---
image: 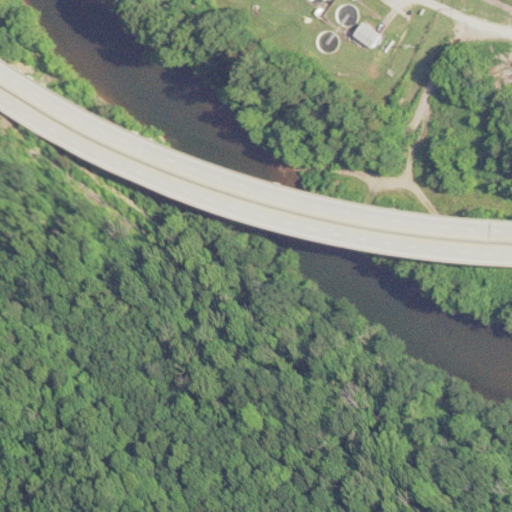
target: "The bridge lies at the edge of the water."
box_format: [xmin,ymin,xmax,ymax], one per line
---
[0,58,512,268]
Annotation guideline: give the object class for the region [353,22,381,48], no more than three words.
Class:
building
